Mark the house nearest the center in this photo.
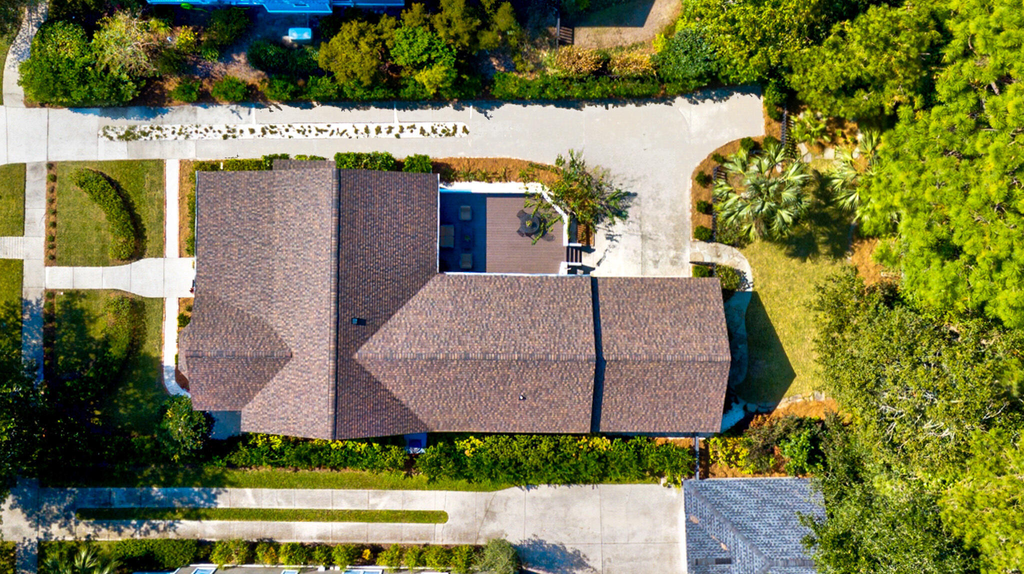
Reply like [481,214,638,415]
[179,160,731,439]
